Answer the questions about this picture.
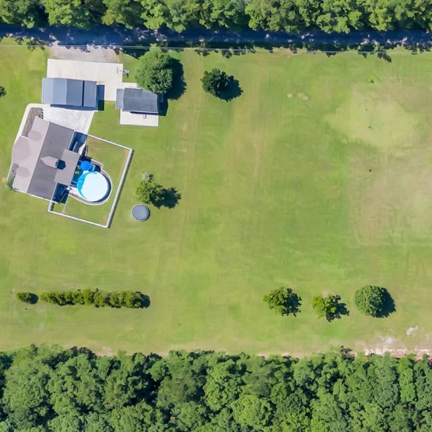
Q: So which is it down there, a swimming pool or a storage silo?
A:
swimming pool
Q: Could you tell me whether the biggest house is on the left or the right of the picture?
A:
left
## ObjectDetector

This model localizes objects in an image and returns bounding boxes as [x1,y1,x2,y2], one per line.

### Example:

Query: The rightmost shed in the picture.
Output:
[116,87,159,112]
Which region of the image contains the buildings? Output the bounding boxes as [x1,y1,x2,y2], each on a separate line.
[116,87,159,112]
[12,118,84,200]
[40,77,99,107]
